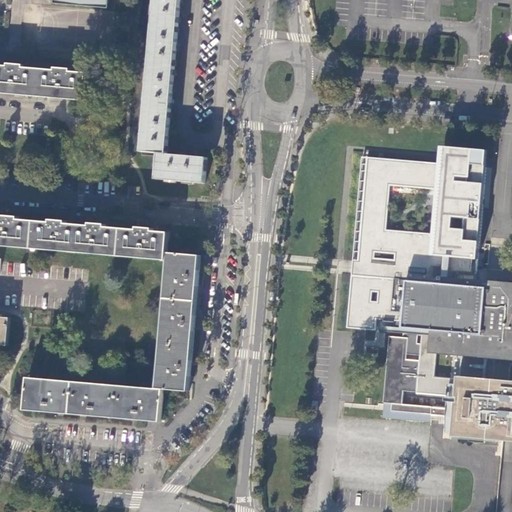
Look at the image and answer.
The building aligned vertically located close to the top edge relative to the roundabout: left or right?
on the left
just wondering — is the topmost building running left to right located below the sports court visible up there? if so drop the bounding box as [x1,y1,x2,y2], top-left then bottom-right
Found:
[0,64,80,101]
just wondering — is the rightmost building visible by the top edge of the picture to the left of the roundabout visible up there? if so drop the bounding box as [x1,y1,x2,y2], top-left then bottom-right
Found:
[136,0,184,154]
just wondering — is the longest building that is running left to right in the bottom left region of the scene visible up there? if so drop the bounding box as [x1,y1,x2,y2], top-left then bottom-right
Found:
[20,377,165,422]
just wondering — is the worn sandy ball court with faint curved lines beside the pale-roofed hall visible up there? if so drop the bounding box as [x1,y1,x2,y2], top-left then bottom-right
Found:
[41,8,92,40]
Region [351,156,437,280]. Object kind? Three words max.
building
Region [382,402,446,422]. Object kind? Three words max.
building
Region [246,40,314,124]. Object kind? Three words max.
roundabout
